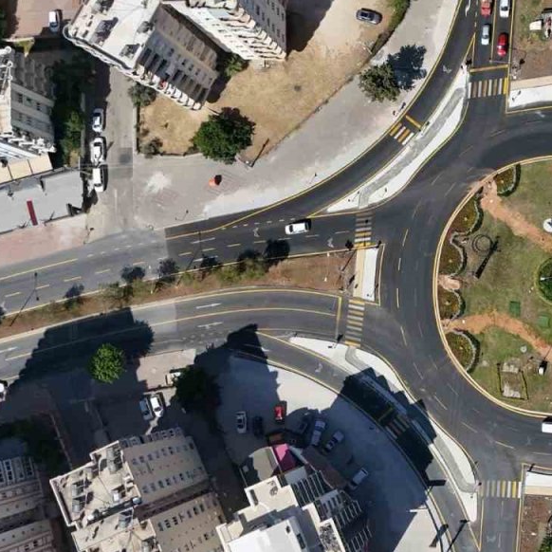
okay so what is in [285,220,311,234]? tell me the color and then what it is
white car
